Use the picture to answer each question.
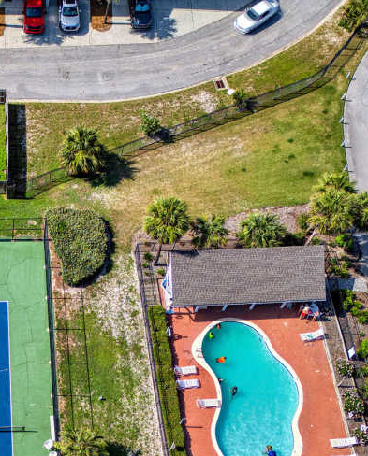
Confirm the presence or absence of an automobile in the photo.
Yes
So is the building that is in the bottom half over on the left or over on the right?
right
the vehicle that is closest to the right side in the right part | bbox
[232,0,275,32]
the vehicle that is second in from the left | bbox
[58,0,81,31]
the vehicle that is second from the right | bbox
[127,0,151,28]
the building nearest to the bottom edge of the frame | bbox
[163,242,327,321]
